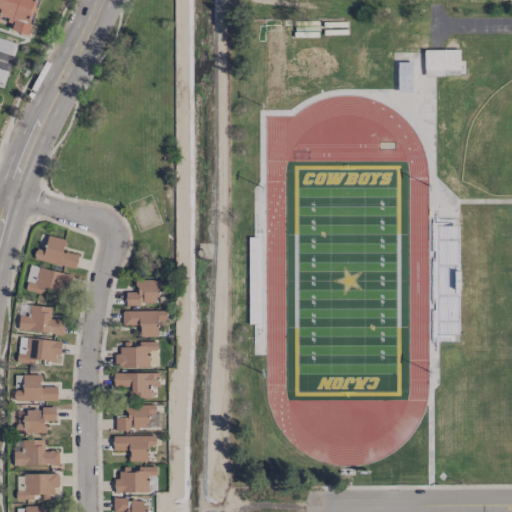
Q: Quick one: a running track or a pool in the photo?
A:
running track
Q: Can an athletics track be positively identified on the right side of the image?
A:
Yes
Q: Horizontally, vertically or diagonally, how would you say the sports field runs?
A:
vertically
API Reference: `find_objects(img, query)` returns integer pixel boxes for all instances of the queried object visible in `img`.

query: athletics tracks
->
[266,98,430,466]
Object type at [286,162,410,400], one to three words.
sports field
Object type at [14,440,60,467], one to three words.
house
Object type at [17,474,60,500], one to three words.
house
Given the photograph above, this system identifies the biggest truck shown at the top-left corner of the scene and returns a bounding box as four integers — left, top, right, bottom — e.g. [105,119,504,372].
[30,61,52,98]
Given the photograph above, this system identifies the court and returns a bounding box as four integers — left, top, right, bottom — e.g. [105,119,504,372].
[130,195,164,232]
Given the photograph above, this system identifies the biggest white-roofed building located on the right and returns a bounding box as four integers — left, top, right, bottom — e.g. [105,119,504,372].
[426,50,467,76]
